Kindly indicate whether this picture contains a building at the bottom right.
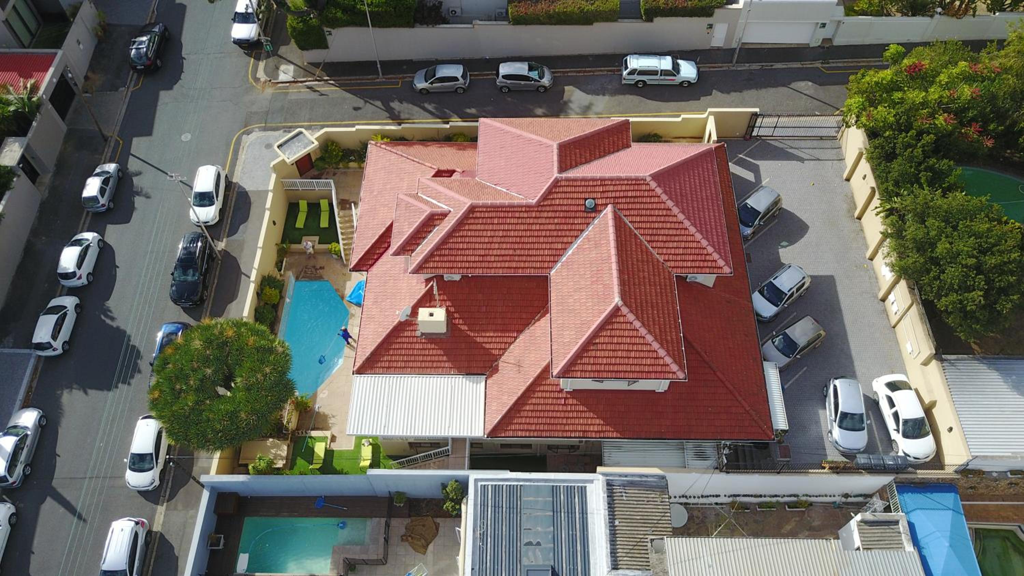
Yes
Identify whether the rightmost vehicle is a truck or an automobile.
automobile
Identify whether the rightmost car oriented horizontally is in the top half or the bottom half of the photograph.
top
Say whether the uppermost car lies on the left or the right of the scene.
left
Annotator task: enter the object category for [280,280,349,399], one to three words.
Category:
swimming pool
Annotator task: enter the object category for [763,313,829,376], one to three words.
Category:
car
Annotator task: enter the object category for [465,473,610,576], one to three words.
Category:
building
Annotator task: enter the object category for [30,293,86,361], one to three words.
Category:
car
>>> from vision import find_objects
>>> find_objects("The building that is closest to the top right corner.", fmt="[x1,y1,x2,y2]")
[741,0,842,46]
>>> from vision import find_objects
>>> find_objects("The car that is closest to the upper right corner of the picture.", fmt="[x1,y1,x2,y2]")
[740,185,788,244]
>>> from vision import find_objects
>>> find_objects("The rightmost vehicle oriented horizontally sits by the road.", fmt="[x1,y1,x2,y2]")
[620,49,698,85]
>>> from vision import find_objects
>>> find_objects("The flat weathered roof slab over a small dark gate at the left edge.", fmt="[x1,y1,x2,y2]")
[0,138,55,197]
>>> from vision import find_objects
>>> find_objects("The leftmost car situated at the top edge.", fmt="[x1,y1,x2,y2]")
[126,21,171,74]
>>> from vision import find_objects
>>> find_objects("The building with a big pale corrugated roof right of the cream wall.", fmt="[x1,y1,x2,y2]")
[939,354,1024,473]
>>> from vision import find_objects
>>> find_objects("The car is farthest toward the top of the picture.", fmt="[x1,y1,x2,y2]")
[232,0,267,47]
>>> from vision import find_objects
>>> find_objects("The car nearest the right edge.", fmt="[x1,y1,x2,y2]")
[875,376,934,461]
